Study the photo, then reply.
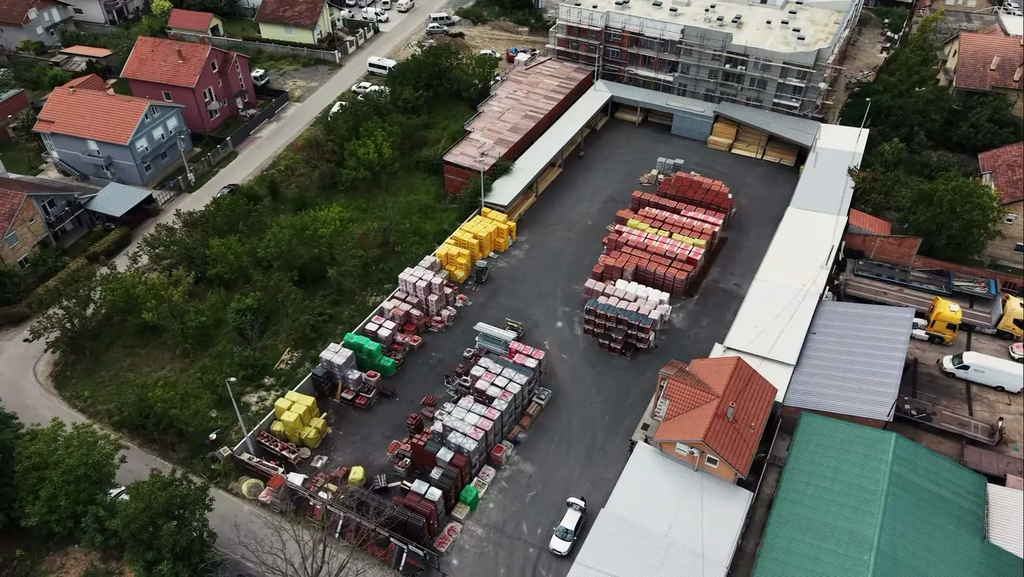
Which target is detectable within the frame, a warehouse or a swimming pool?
warehouse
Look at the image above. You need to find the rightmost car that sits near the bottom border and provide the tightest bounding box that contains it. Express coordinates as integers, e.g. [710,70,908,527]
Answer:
[549,488,588,557]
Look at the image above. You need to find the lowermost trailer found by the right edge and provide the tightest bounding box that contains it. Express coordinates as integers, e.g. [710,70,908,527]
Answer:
[895,395,1005,446]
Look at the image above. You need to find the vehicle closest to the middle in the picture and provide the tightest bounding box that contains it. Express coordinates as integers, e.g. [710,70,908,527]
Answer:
[466,260,492,292]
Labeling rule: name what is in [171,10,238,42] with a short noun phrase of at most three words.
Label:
house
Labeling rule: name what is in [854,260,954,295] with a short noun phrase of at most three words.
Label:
trailer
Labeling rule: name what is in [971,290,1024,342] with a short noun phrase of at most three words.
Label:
truck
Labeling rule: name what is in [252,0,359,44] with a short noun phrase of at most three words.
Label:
house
